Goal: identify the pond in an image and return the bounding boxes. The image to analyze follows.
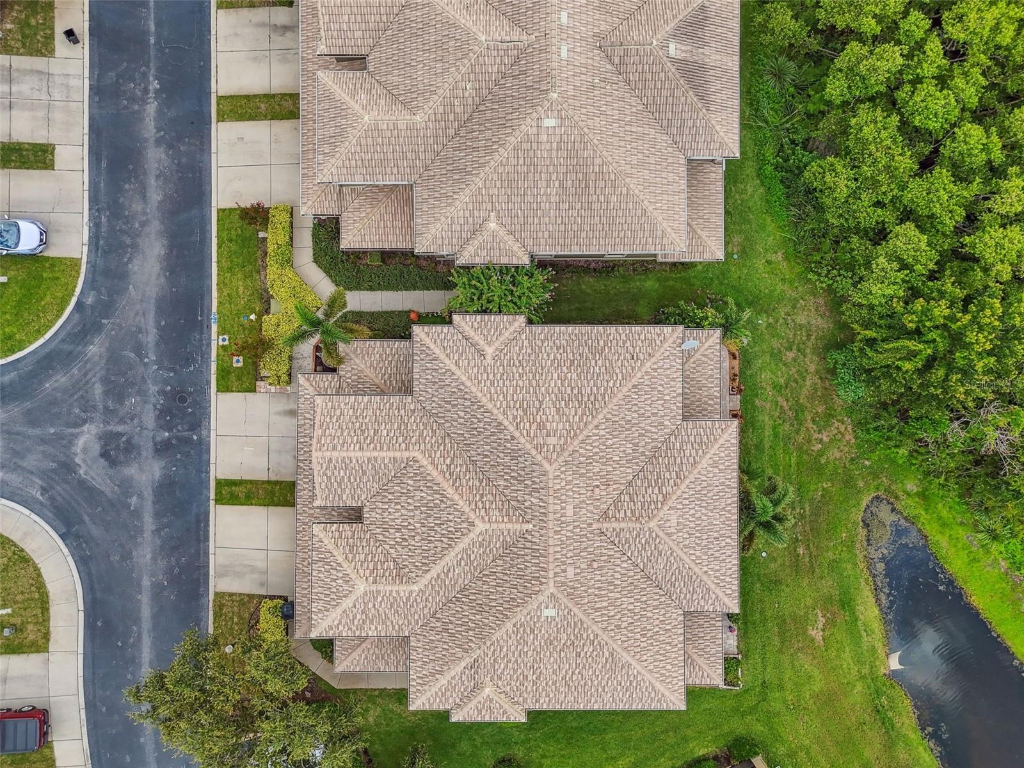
[863,496,1024,768]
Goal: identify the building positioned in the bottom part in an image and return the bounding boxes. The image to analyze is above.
[292,312,741,723]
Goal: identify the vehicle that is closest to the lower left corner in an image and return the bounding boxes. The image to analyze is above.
[0,707,55,757]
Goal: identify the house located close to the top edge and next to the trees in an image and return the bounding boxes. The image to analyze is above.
[299,0,741,272]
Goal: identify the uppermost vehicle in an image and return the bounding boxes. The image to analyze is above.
[0,212,54,258]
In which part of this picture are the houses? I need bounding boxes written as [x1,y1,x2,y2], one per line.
[292,312,741,723]
[299,0,741,272]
